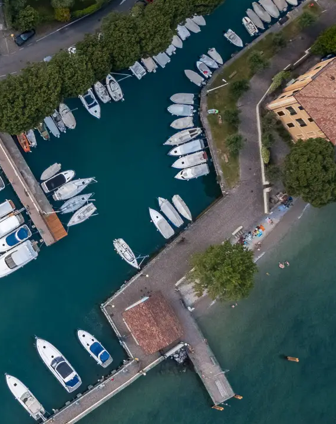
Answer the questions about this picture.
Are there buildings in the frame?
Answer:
Yes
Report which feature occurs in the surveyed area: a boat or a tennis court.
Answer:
boat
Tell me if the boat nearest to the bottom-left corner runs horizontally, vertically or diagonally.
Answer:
diagonally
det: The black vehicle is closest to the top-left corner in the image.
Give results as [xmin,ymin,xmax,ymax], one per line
[12,28,37,47]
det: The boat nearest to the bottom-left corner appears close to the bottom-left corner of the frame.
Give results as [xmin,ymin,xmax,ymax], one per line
[5,373,46,422]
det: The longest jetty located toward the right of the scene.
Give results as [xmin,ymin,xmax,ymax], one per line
[189,312,235,405]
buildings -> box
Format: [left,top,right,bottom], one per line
[274,57,336,145]
[120,292,185,355]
